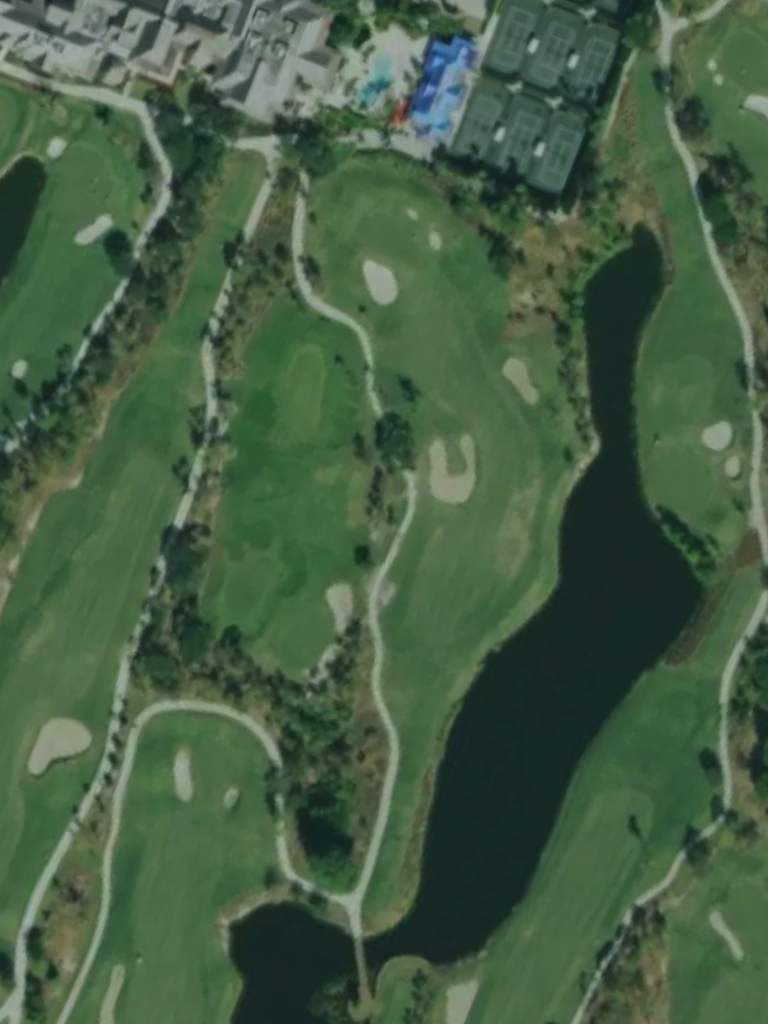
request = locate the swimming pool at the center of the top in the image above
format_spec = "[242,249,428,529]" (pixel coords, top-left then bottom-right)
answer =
[357,52,395,109]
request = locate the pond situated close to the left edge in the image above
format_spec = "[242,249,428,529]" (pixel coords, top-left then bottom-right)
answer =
[0,155,47,283]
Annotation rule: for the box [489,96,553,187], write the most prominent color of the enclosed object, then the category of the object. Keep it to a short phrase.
green tennis court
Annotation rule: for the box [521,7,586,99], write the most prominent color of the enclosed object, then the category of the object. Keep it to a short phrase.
green tennis court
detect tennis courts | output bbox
[480,0,546,85]
[489,96,553,187]
[527,111,593,203]
[560,0,594,12]
[521,7,586,99]
[449,80,513,168]
[561,22,624,115]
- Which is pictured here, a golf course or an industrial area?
golf course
